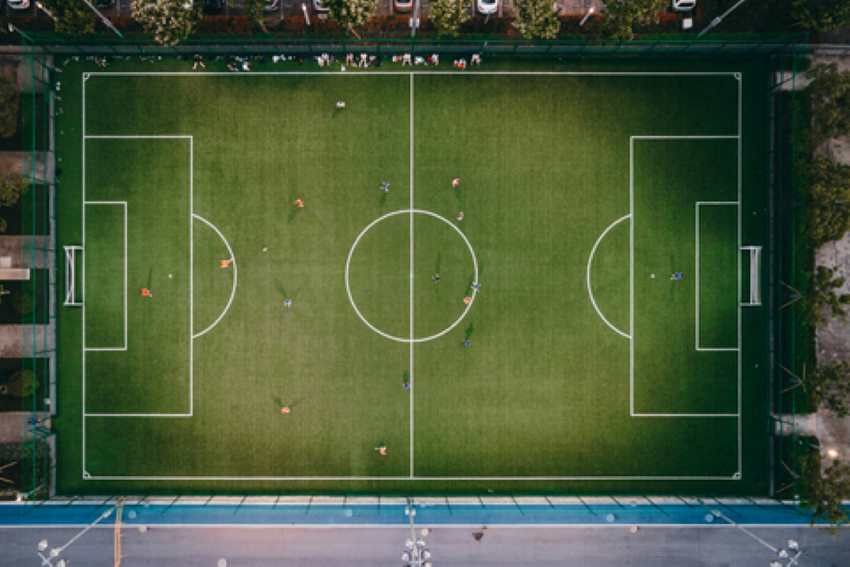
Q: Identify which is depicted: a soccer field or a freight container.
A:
soccer field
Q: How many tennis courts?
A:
none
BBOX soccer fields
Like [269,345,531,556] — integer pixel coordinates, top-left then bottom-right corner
[58,56,767,494]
